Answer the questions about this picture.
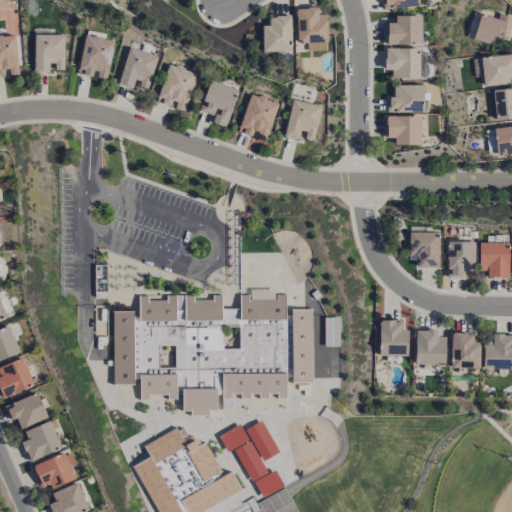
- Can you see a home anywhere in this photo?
Yes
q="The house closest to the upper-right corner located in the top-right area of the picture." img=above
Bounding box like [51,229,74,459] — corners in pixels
[470,10,512,52]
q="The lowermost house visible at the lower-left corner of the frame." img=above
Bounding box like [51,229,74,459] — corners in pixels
[50,482,92,512]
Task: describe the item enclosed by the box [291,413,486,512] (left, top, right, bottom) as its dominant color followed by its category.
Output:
green sports field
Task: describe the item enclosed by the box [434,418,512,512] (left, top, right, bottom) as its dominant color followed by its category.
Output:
green baseball field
